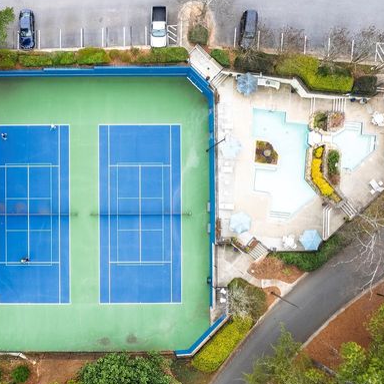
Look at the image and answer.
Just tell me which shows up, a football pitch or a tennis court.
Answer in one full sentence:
I can see a tennis court in this picture.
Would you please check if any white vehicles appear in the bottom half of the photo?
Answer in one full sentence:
No, the scene shows no white vehicle in the bottom half of the photo.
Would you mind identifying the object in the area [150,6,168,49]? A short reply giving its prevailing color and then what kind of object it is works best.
white vehicle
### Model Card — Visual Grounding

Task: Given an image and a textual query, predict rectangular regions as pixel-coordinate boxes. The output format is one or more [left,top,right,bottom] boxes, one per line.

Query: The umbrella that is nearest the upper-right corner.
[235,73,258,95]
